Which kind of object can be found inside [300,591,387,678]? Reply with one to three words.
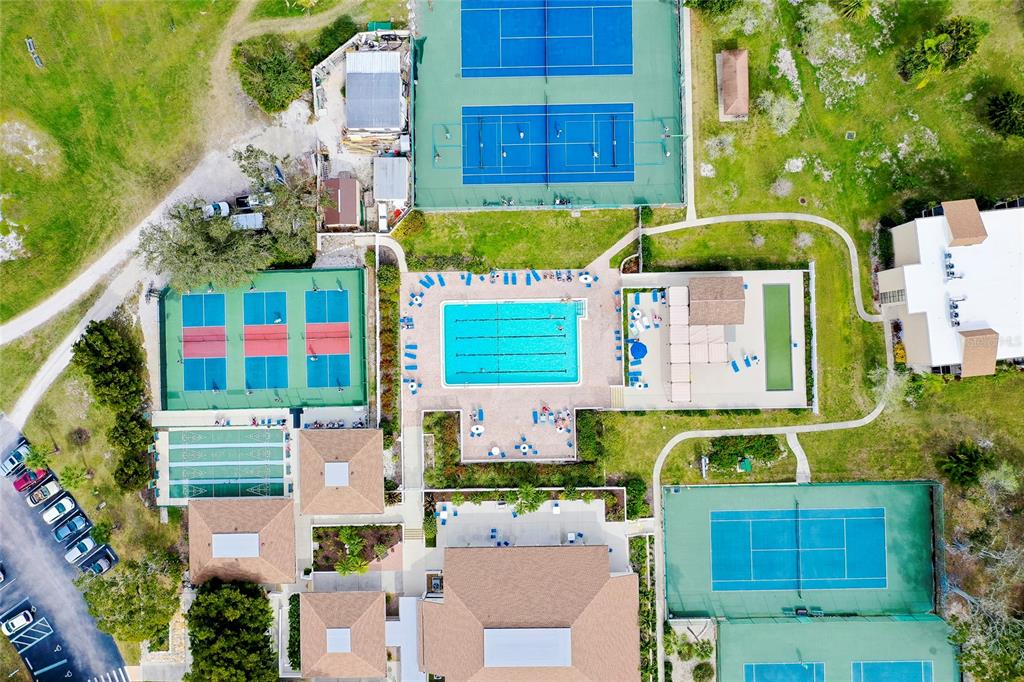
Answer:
building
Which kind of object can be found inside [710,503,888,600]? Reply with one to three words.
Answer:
tennis court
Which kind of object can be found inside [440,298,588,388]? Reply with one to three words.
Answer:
swimming pool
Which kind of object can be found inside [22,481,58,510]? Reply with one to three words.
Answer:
car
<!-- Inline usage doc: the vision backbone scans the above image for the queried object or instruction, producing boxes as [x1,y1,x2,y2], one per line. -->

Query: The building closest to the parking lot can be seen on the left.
[188,499,296,585]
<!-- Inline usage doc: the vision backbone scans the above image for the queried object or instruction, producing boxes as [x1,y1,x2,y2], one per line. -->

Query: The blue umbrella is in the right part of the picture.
[634,342,650,359]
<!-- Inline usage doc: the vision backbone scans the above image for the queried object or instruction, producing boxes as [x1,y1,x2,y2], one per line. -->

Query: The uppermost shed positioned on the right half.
[716,49,748,122]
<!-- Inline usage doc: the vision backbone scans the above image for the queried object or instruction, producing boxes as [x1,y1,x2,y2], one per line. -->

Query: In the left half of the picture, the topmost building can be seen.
[346,52,403,136]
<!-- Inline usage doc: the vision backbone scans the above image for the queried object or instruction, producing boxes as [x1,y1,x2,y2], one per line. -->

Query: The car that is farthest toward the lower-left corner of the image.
[0,609,32,638]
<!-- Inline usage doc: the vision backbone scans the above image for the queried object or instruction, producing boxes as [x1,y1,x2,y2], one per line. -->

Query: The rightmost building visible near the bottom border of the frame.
[420,540,639,682]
